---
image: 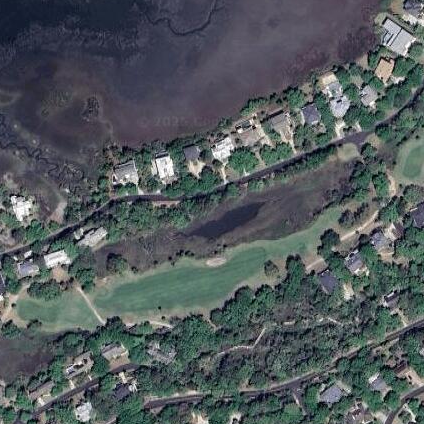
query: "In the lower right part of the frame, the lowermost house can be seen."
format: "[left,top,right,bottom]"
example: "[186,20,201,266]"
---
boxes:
[345,403,372,424]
